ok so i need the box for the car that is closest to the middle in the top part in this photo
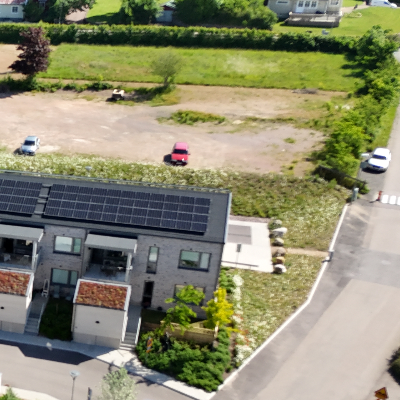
[168,137,193,161]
